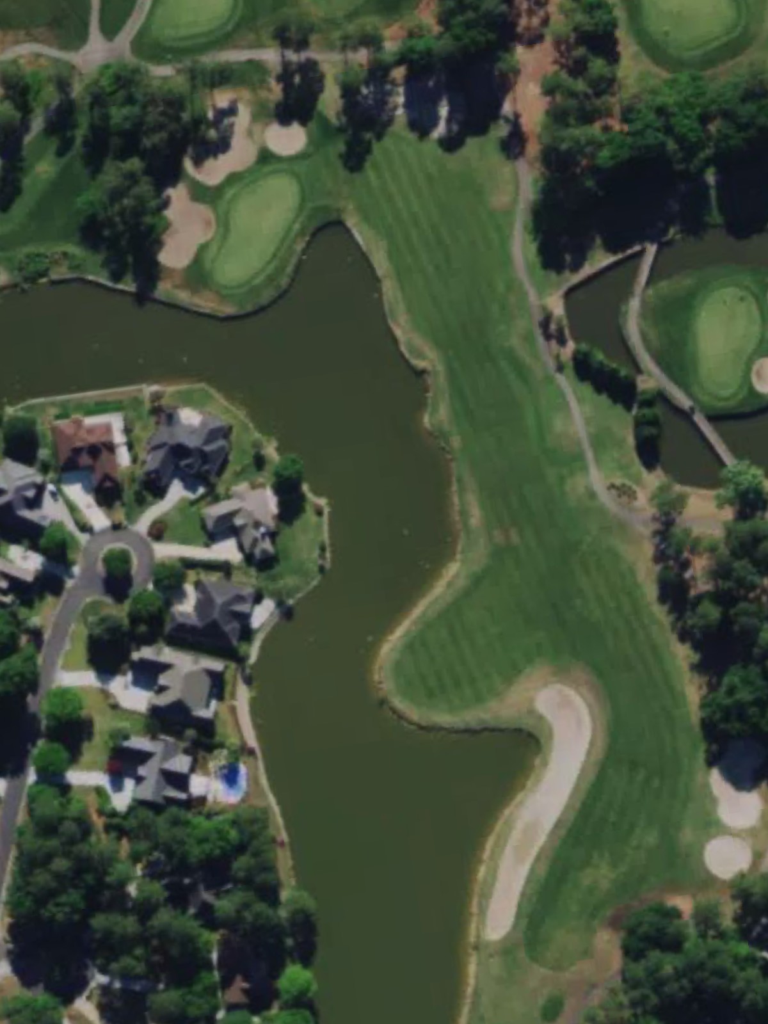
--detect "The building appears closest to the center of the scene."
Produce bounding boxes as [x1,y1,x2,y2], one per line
[197,479,284,566]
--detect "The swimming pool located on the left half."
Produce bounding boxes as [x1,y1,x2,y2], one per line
[216,760,246,799]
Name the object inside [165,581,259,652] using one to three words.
house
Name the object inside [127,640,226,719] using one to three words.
house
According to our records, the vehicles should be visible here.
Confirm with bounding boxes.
[47,483,58,498]
[688,403,695,411]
